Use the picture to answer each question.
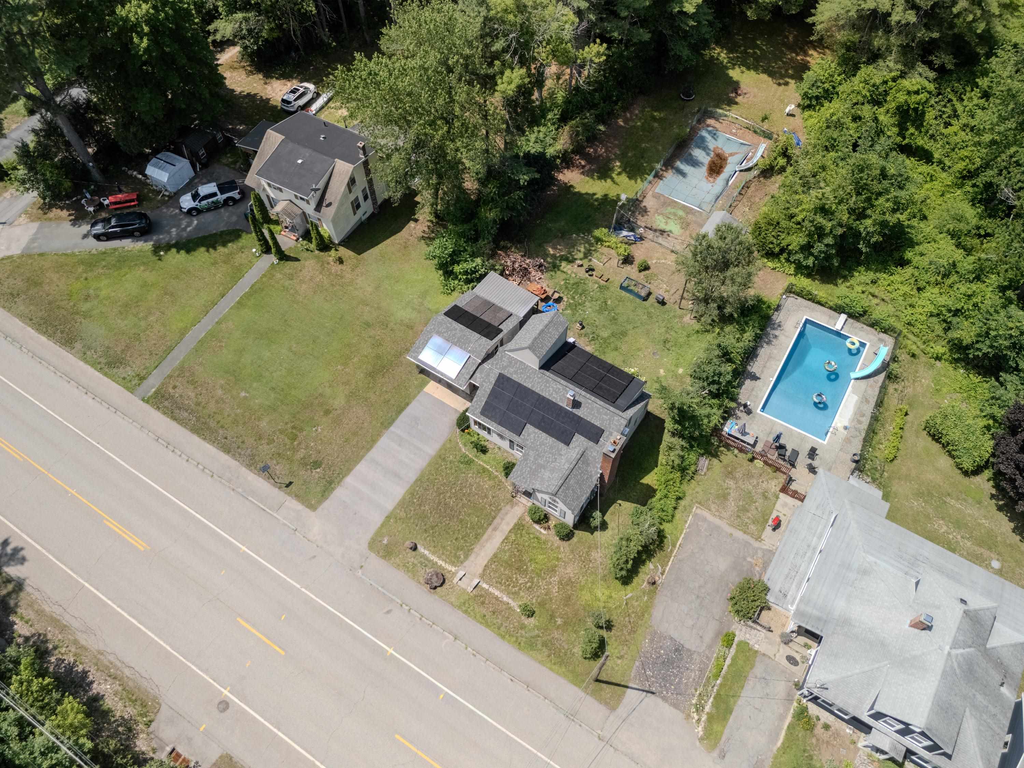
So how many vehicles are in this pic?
3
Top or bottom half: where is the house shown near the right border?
bottom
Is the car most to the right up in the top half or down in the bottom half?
top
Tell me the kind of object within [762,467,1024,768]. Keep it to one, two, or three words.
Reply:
house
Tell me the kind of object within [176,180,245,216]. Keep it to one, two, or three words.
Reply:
truck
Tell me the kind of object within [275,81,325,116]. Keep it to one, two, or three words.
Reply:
car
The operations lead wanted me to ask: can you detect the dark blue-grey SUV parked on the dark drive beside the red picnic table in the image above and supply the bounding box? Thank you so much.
[86,209,153,243]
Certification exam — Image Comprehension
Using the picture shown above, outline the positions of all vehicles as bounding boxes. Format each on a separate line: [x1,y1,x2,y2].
[176,180,245,216]
[86,209,153,243]
[275,81,325,116]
